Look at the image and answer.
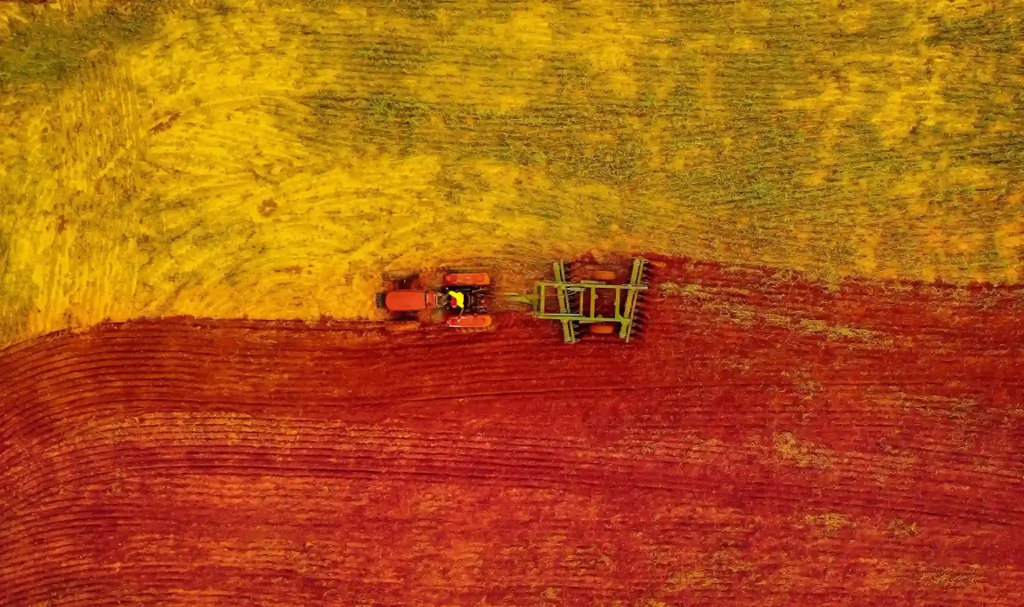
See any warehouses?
No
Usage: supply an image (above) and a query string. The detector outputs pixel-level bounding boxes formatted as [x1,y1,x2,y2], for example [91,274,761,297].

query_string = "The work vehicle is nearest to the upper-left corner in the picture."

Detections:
[375,267,501,333]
